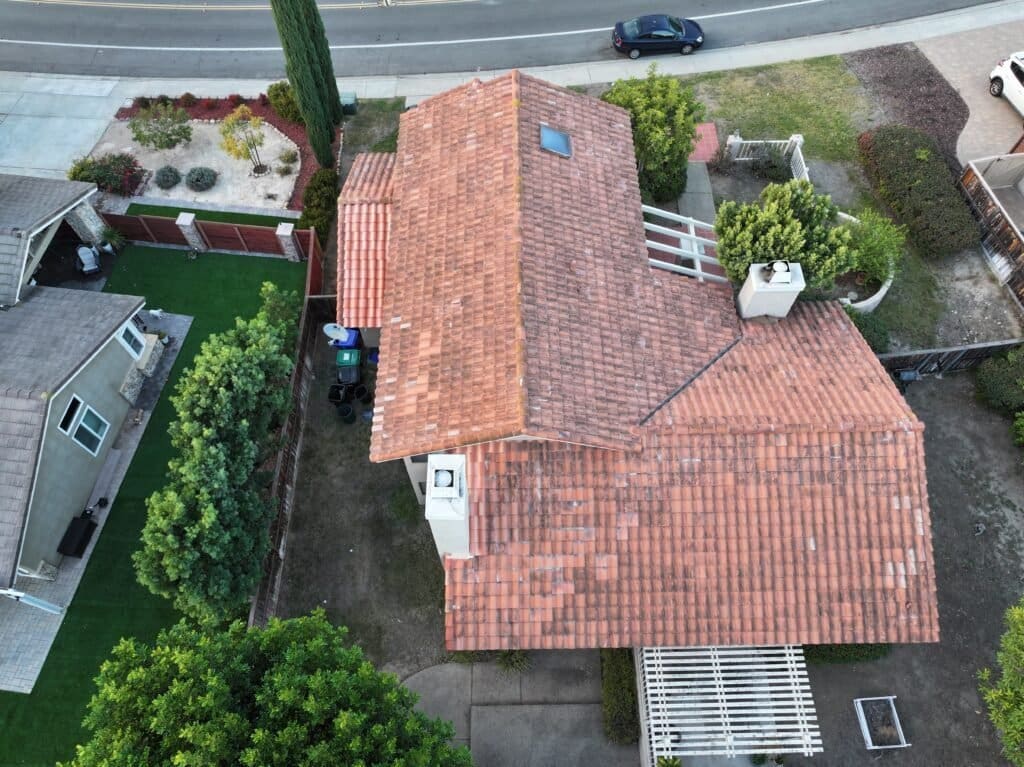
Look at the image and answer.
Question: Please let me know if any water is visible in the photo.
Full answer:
No, there is no water in the image.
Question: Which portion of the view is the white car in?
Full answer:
You can find the white car in the top right area of the picture.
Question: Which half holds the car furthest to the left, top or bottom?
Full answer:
The car furthest to the left is in the top half of the image.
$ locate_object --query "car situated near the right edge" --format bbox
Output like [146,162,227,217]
[988,51,1024,117]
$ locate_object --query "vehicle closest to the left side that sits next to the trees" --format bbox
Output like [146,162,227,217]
[613,10,705,58]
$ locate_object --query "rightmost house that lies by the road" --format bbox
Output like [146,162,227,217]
[333,67,943,652]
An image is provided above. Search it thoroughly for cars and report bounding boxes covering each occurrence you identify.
[613,10,705,58]
[988,51,1024,117]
